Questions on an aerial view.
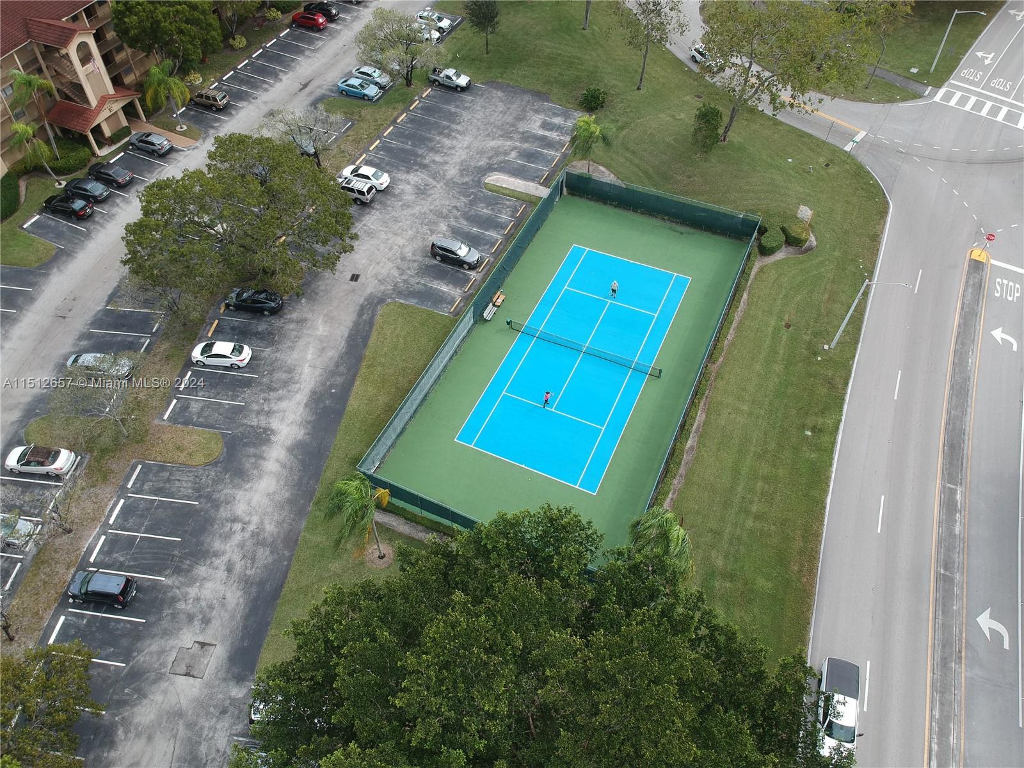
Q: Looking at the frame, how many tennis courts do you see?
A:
1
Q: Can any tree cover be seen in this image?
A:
Yes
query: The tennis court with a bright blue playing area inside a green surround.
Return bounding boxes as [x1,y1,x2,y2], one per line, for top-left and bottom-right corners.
[376,195,747,594]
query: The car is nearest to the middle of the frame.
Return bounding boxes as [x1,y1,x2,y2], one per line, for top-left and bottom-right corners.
[429,236,481,269]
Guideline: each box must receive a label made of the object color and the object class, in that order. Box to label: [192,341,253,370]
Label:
white car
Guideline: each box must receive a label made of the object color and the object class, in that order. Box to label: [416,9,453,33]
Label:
white car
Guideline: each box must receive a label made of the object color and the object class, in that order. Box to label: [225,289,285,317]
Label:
black car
